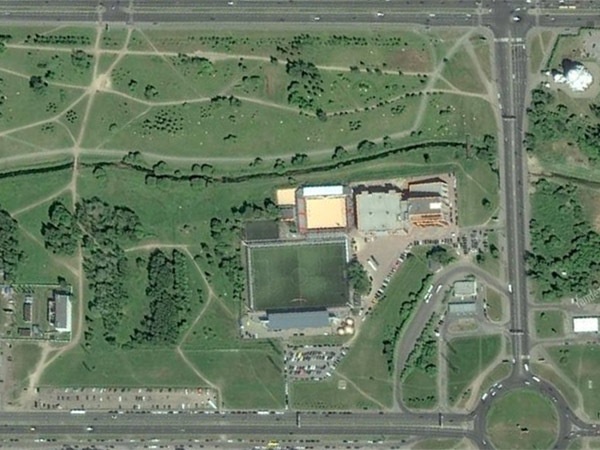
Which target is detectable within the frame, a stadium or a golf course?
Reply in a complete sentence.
Of the two, only a stadium appears.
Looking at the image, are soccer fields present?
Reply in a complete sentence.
Yes, there's a soccer field down there.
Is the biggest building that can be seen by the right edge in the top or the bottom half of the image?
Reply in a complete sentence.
You can find the biggest building that can be seen by the right edge in the top half.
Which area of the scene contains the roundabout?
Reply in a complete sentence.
The roundabout sits in the bottom right section of the image.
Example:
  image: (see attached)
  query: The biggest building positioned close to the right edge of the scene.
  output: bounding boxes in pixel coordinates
[566,66,595,91]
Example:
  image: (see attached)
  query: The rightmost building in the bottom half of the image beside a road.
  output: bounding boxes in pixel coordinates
[574,318,599,332]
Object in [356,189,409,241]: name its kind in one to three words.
building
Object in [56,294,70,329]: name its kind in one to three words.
shed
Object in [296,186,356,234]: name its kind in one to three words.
stadium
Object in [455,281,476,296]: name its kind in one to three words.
building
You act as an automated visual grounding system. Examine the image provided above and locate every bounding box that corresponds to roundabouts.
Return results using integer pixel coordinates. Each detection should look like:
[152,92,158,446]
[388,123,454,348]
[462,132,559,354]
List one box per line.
[475,377,570,450]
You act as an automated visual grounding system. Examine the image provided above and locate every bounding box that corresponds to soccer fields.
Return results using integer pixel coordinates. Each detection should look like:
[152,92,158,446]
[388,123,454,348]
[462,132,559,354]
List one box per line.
[243,235,350,309]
